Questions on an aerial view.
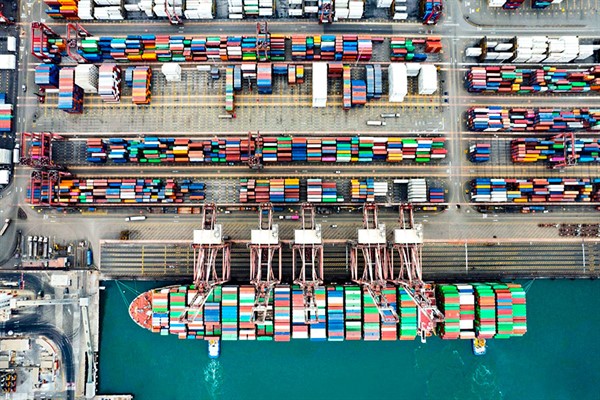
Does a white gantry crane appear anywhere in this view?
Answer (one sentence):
Yes, the frame does contain a white gantry crane.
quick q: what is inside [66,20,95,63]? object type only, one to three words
crane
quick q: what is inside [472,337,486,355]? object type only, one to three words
boat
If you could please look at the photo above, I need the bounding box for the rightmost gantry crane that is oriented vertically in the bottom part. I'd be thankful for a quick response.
[379,202,444,331]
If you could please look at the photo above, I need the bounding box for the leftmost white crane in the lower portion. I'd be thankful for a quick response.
[180,202,242,331]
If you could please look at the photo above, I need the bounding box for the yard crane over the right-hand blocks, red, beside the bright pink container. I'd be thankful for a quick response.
[545,129,577,168]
